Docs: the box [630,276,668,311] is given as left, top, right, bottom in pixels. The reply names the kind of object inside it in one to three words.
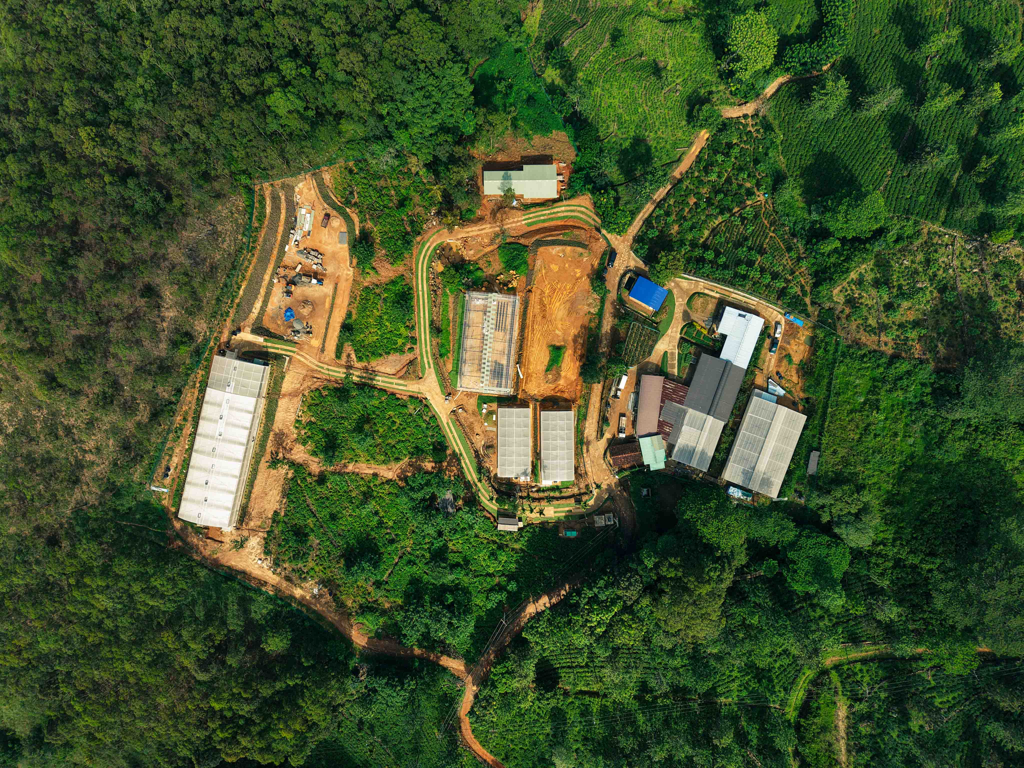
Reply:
house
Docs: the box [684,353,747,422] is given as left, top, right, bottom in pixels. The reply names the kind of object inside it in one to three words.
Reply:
building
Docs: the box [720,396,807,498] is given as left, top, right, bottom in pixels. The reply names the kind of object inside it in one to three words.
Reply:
greenhouse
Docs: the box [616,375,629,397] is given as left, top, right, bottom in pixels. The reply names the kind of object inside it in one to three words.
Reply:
vehicle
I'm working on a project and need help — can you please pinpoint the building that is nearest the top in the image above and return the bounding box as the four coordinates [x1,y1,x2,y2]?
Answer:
[484,165,557,201]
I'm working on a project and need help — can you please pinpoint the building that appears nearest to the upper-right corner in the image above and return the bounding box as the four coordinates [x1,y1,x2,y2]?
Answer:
[716,306,765,369]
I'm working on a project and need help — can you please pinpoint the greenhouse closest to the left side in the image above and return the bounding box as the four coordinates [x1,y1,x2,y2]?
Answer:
[178,355,275,528]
